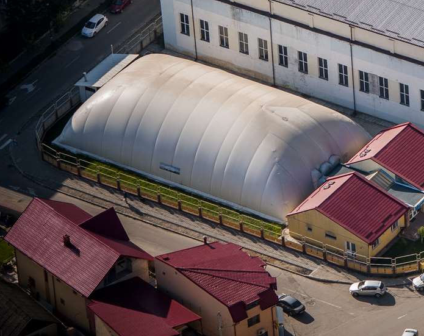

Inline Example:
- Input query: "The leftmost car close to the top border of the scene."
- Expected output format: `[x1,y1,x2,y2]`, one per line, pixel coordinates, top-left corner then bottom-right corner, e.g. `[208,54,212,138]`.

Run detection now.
[85,14,105,36]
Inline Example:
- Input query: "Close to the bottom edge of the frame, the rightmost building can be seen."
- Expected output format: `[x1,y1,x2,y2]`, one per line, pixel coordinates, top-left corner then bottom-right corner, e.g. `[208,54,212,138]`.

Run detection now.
[155,235,279,336]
